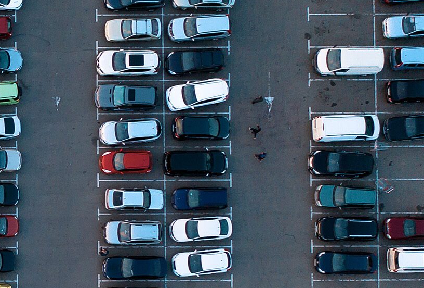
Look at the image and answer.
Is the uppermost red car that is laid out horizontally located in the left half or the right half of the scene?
left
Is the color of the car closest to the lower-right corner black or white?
white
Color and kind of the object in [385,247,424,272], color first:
white car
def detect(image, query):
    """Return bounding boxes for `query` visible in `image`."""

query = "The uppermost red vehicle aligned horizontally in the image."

[99,148,155,174]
